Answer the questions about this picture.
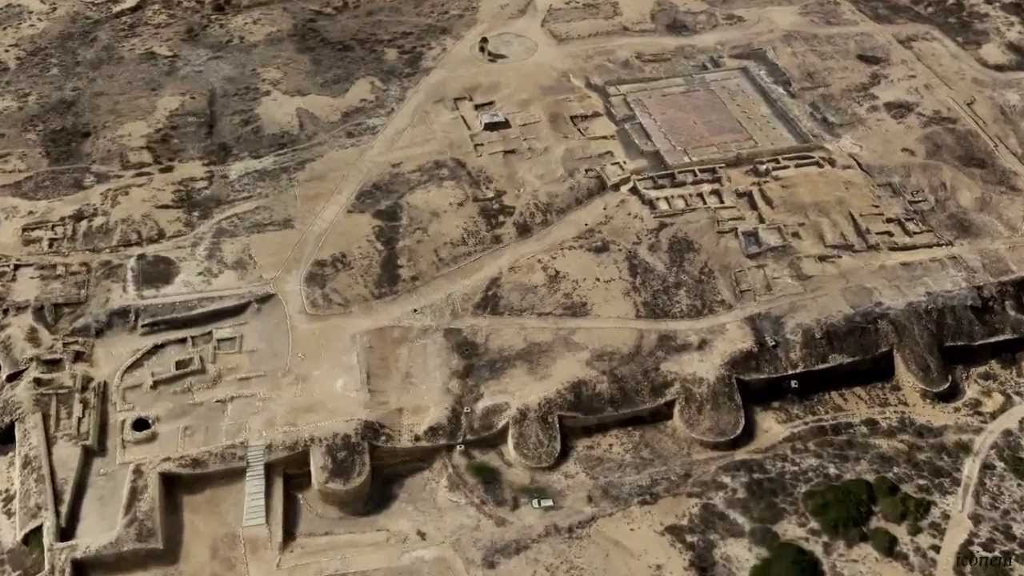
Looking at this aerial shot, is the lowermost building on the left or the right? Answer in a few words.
left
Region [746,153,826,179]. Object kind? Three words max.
building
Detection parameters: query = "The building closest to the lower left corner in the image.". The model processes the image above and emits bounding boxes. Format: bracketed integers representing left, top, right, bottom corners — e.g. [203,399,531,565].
[40,334,97,372]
